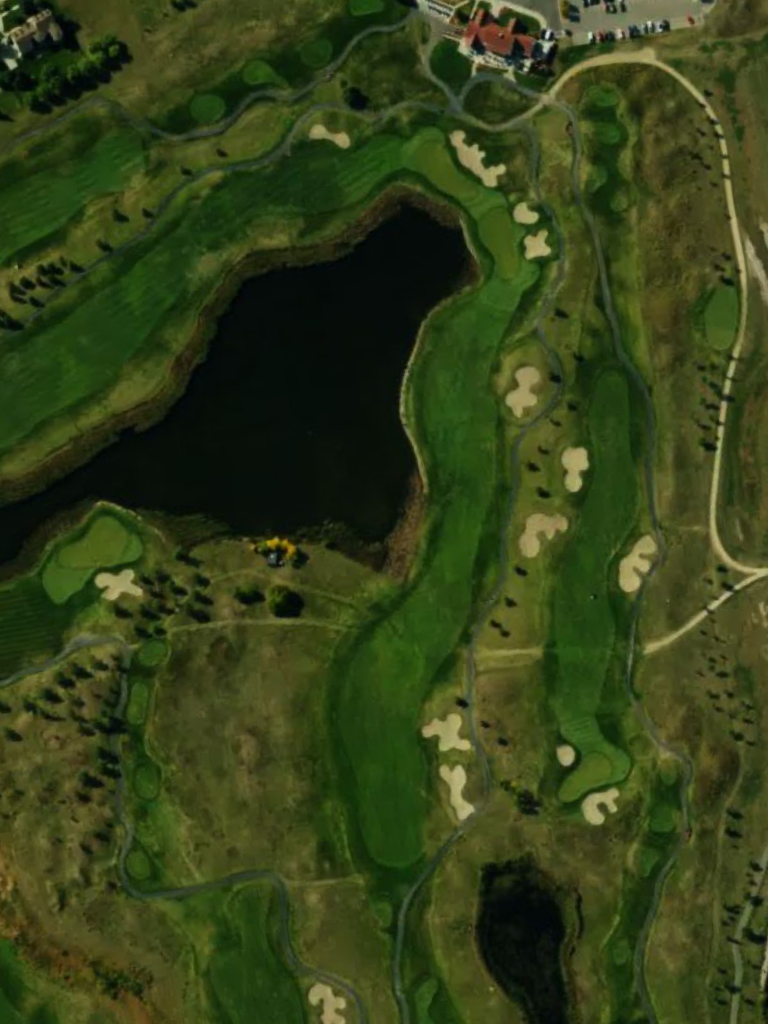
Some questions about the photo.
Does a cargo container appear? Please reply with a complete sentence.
No, the frame has no cargo container in it.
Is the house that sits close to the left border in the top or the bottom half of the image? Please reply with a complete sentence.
The house that sits close to the left border sits in the top half of the picture.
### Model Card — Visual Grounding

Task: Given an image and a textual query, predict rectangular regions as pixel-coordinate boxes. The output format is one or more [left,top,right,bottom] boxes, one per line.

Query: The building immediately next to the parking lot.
[461,4,538,58]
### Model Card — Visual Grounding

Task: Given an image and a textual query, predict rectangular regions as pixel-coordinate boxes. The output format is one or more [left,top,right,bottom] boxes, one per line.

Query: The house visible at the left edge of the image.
[0,11,64,61]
